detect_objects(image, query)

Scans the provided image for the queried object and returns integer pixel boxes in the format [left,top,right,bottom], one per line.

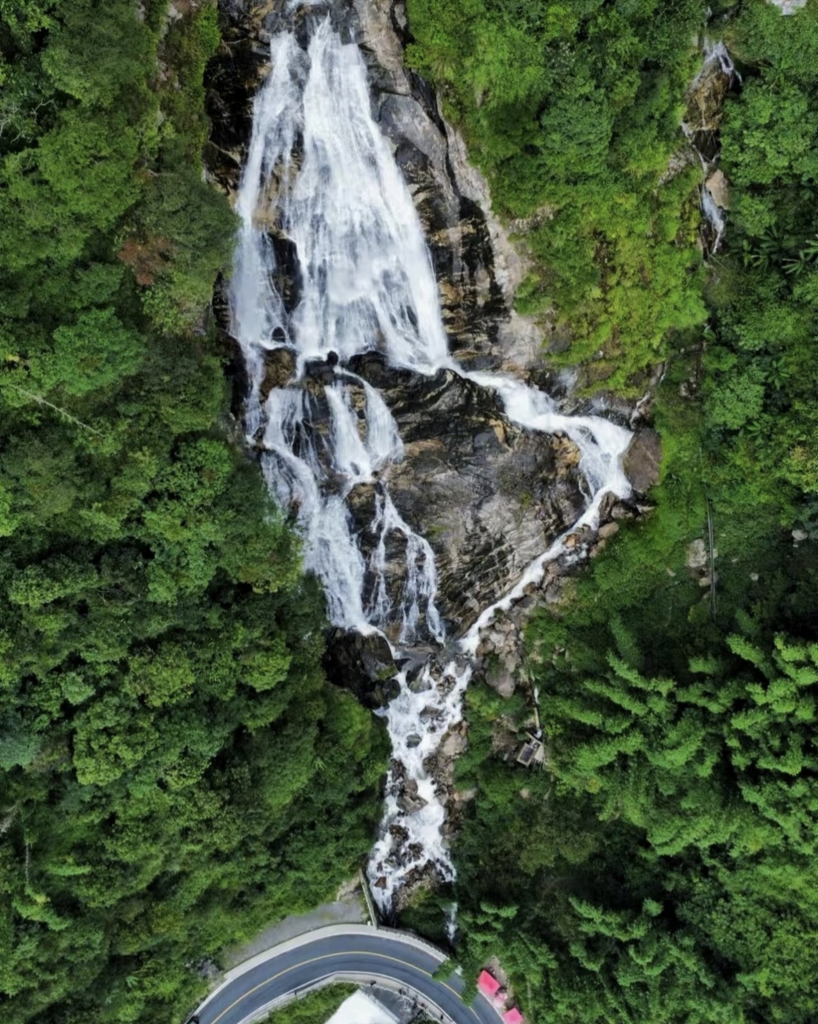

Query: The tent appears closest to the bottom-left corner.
[326,985,410,1024]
